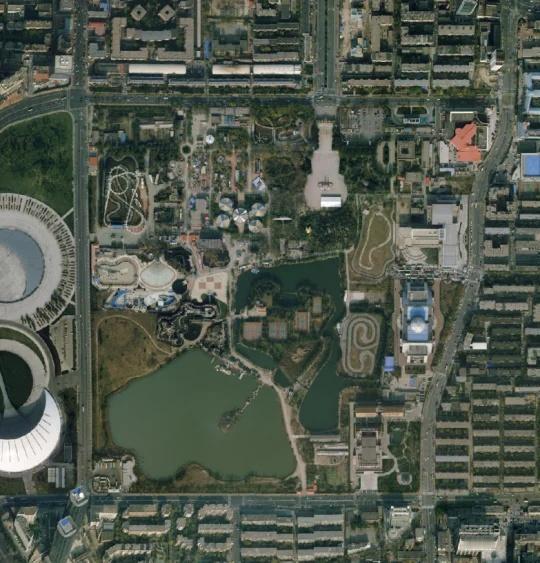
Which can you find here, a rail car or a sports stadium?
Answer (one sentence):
Of the two, only a sports stadium appears.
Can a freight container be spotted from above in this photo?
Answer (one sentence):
No, no freight container is visible in the view.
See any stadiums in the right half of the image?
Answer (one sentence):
No, there's no stadium to be seen in the right half of the image.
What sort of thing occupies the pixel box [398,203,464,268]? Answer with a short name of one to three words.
building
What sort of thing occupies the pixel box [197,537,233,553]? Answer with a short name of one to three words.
building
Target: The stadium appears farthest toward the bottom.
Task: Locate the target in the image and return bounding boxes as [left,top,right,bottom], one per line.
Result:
[0,320,62,473]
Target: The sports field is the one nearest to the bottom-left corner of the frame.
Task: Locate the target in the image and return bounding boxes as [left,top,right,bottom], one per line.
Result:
[0,350,34,418]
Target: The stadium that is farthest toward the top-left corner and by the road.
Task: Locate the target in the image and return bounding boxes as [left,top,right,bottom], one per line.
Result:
[0,193,78,332]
